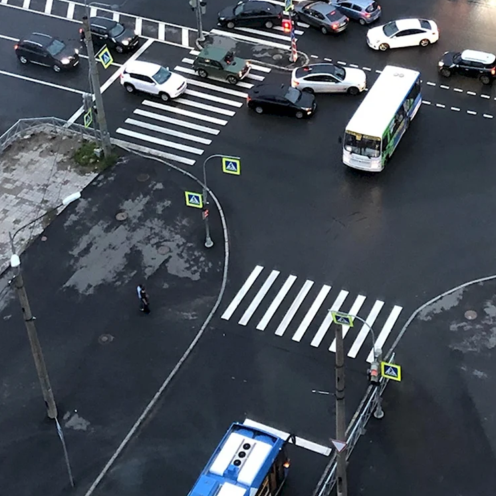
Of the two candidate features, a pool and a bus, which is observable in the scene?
bus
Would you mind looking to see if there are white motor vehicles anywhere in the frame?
Yes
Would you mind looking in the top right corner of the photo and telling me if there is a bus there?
Yes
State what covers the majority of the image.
paved ground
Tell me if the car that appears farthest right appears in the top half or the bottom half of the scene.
top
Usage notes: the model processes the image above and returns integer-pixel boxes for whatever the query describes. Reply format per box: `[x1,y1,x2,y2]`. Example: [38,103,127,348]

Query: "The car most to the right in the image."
[439,48,496,82]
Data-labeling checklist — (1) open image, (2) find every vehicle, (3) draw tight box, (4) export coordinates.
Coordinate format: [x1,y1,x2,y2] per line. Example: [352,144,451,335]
[75,13,145,53]
[242,81,319,119]
[439,48,496,82]
[336,66,421,174]
[216,0,286,31]
[366,18,440,52]
[291,62,367,97]
[11,28,81,69]
[192,43,252,84]
[117,57,189,102]
[193,426,304,496]
[288,0,354,31]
